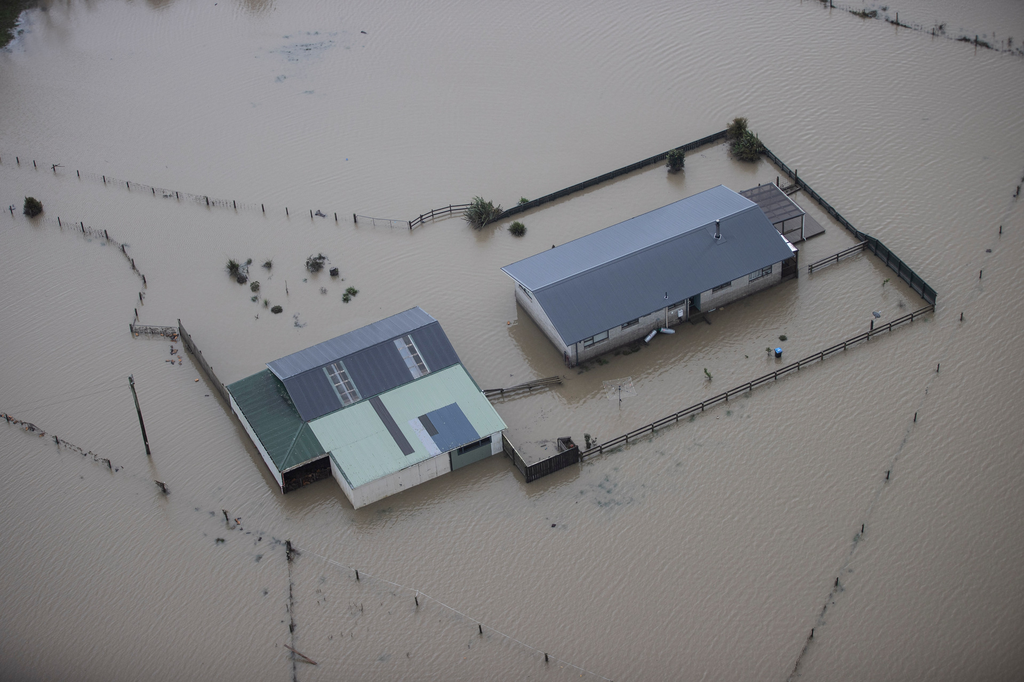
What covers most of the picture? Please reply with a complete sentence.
What you mostly see from above here is water.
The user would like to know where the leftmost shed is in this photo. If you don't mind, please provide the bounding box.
[225,306,508,510]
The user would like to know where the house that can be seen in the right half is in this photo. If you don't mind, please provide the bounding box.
[500,184,802,366]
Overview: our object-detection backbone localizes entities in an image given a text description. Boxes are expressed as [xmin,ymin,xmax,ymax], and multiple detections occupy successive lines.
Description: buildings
[500,184,802,366]
[225,306,508,510]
